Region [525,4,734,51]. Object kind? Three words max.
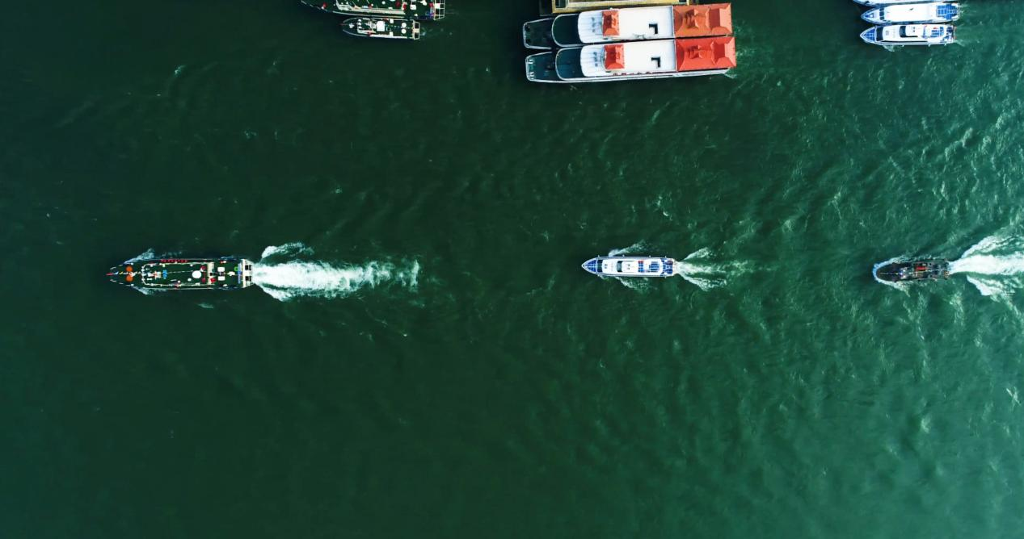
ship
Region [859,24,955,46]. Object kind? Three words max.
boat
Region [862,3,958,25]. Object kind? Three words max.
boat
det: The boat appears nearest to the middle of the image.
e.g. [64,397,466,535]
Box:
[582,256,678,278]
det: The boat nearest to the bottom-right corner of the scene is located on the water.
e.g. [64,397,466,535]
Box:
[879,260,952,281]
